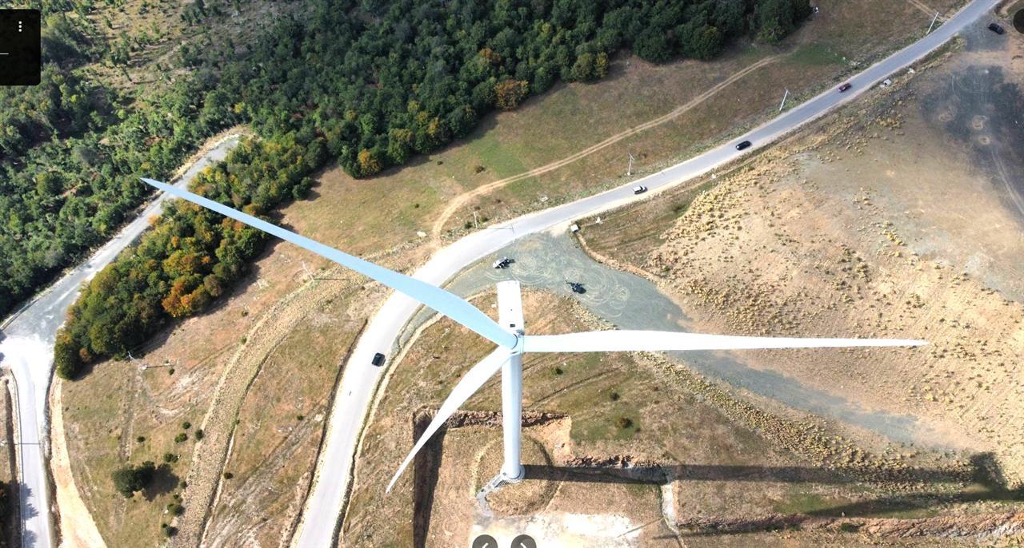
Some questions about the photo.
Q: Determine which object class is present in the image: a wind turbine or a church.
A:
wind turbine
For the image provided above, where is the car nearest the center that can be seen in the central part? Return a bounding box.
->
[494,257,511,270]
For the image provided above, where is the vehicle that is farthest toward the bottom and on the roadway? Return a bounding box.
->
[371,352,383,367]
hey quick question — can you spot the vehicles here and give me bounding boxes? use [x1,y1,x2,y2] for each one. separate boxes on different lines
[494,257,511,270]
[566,280,583,294]
[371,352,383,367]
[632,185,647,194]
[838,82,852,92]
[736,141,752,151]
[990,23,1004,33]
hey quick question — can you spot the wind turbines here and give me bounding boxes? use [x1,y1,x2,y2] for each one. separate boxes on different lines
[143,176,927,490]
